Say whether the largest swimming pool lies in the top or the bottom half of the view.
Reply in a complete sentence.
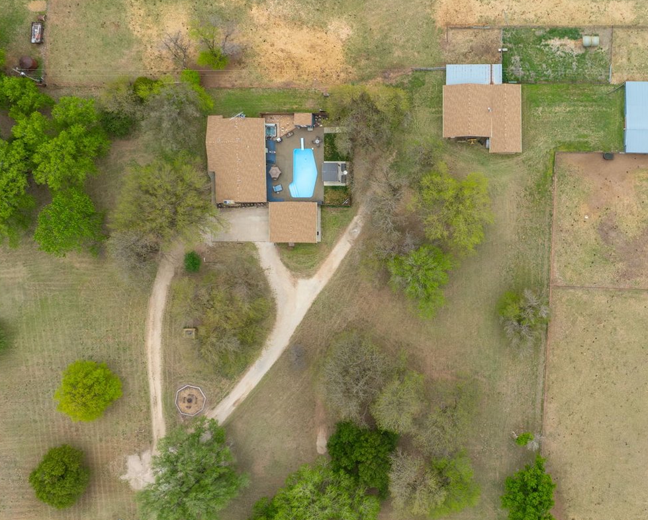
You can find the largest swimming pool in the top half.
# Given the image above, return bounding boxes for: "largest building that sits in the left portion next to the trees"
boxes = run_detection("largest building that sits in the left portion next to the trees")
[205,115,269,202]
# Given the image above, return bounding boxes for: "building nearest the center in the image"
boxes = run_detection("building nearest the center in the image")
[269,202,320,243]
